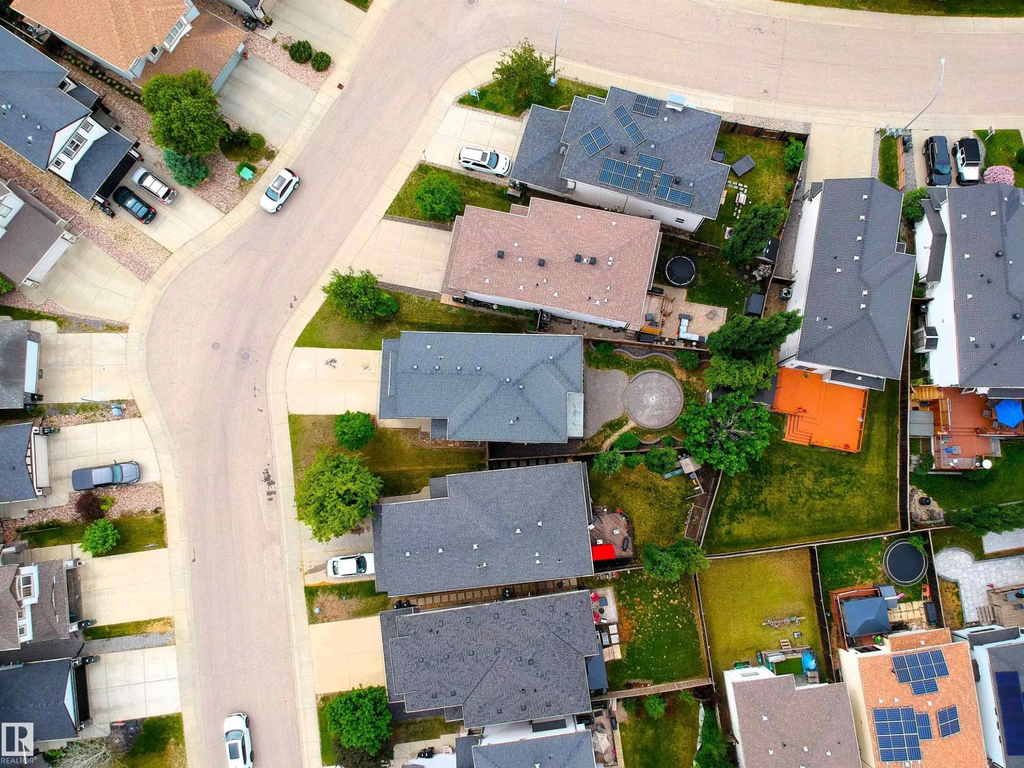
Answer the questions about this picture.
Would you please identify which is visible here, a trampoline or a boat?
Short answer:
trampoline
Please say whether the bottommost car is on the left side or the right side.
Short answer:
left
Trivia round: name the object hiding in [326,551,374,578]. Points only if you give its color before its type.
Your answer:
white car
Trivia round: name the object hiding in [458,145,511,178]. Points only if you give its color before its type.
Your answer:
white car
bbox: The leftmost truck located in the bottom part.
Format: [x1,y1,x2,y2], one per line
[69,460,141,491]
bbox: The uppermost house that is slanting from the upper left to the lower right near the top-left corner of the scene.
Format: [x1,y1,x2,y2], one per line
[0,20,141,204]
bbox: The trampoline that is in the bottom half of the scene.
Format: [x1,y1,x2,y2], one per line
[878,539,928,586]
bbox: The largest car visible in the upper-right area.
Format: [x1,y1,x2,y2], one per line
[923,132,953,187]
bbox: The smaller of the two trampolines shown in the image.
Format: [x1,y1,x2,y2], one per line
[662,255,697,289]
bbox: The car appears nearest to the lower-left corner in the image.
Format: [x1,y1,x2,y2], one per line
[221,711,254,768]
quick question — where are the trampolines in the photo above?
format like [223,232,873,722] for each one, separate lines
[662,255,697,289]
[878,539,928,586]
